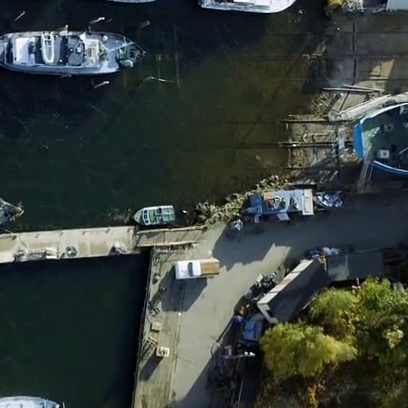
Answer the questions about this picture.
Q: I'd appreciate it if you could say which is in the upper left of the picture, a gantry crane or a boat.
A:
boat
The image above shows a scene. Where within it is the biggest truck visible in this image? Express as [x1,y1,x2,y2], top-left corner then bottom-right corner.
[173,259,220,281]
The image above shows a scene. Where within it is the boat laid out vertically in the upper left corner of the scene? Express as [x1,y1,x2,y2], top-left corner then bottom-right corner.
[42,31,55,64]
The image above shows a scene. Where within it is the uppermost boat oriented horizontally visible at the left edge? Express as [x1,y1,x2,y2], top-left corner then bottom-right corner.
[0,30,145,76]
